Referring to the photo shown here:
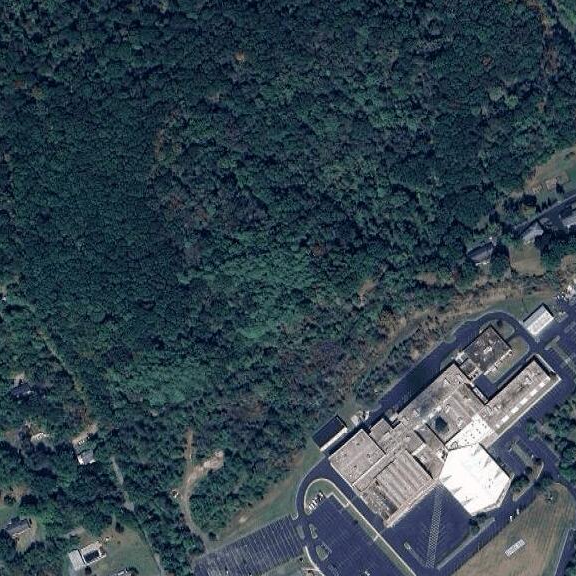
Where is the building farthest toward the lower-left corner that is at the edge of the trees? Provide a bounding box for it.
[6,519,32,543]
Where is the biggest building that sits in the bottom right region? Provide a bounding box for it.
[330,326,561,529]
